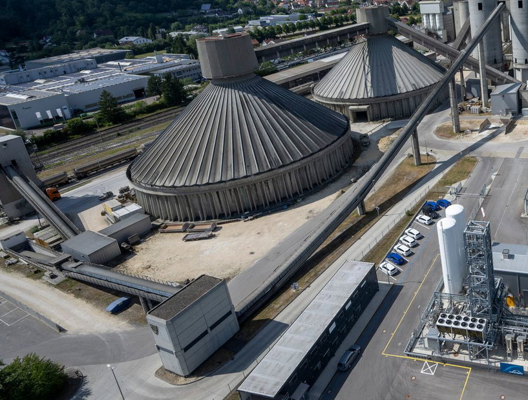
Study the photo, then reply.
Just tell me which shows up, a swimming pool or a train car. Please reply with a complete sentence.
Visible in the photo is a train car.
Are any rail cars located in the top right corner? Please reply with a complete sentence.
No, in the top right corner there is no rail car.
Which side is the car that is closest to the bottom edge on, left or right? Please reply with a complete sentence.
The car that is closest to the bottom edge appears in the right half of the scene.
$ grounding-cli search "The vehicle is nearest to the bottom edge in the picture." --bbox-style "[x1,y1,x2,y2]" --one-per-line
[336,345,360,375]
